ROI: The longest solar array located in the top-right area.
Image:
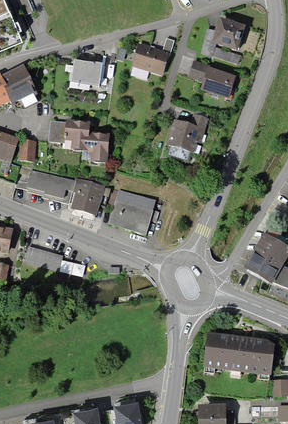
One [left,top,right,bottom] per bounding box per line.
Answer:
[202,79,234,98]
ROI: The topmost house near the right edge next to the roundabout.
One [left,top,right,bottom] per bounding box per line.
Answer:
[246,232,288,288]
